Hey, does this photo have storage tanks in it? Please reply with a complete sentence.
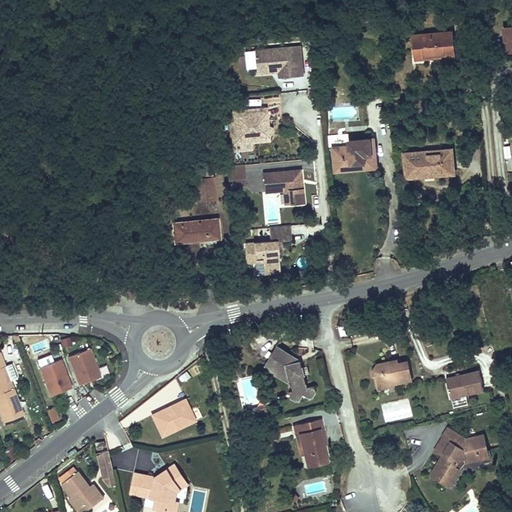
No, I can see no storage tank in this picture.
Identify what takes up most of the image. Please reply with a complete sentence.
For the most part, this view shows trees.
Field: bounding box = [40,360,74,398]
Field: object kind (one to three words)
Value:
house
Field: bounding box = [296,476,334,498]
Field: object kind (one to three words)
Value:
swimming pool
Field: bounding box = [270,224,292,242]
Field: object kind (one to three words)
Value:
shed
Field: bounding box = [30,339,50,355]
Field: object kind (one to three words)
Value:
swimming pool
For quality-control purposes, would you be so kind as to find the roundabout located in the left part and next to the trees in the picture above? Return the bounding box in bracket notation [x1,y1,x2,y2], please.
[127,311,190,374]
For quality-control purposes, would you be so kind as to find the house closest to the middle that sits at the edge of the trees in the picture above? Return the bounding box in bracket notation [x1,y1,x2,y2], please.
[244,241,282,274]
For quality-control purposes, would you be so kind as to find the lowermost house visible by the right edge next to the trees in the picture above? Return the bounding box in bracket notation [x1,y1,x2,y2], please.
[430,426,490,488]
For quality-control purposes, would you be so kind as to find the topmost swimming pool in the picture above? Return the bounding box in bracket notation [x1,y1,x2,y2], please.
[331,105,359,120]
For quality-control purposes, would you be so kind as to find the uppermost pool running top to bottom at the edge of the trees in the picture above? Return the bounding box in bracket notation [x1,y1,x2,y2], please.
[268,199,280,224]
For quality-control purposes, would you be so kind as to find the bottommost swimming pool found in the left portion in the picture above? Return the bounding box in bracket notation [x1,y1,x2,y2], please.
[190,486,210,512]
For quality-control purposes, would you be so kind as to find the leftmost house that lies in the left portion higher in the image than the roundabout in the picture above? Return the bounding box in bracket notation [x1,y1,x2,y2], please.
[174,218,222,245]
